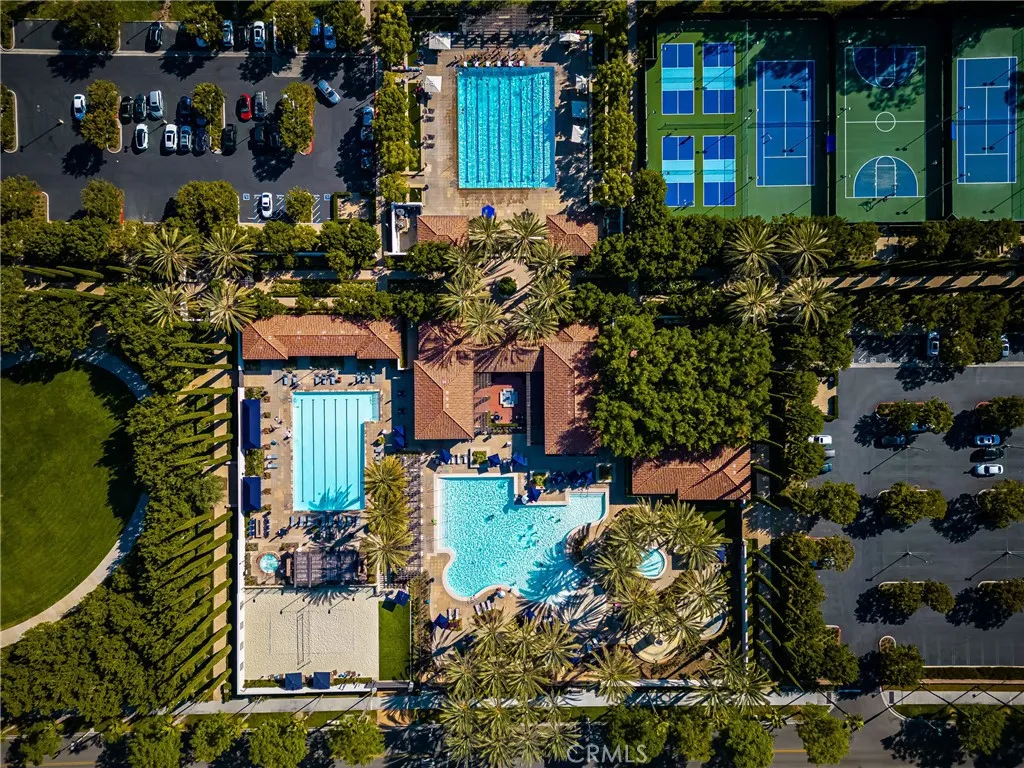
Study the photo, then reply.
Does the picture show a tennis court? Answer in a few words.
Yes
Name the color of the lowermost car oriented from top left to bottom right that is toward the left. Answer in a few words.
blue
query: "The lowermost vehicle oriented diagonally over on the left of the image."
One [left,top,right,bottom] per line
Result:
[316,77,340,104]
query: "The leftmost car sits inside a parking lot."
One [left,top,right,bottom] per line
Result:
[70,92,85,120]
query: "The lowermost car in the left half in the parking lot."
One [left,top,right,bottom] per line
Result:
[258,191,272,218]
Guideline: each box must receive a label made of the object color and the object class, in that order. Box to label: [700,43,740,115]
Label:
blue sports court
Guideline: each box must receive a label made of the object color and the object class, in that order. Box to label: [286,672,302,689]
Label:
blue umbrella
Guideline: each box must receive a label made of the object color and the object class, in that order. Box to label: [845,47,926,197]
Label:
blue basketball court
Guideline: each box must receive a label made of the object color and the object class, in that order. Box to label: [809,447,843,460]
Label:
gray vehicle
